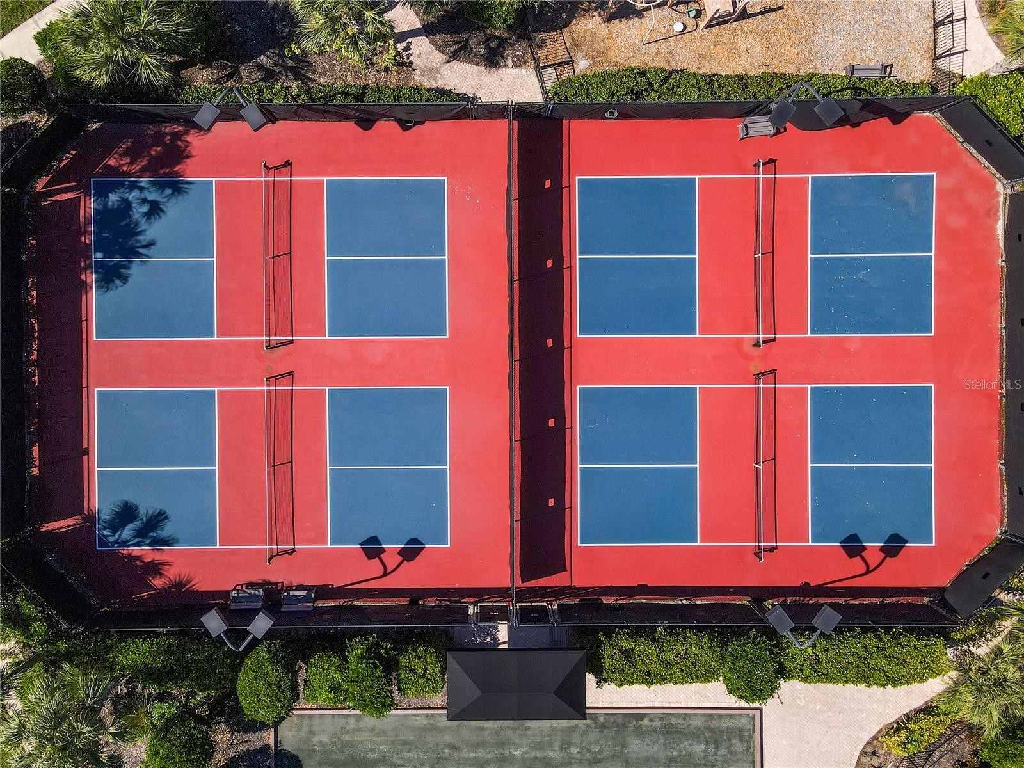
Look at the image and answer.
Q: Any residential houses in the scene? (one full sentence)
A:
No, I can't see a single residential house in this photo.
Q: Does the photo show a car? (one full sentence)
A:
No, the scene contains no car.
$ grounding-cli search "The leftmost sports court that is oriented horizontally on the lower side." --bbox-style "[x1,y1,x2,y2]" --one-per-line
[94,387,449,548]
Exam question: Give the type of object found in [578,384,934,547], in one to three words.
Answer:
sports court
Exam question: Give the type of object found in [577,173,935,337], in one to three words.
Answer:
sports court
